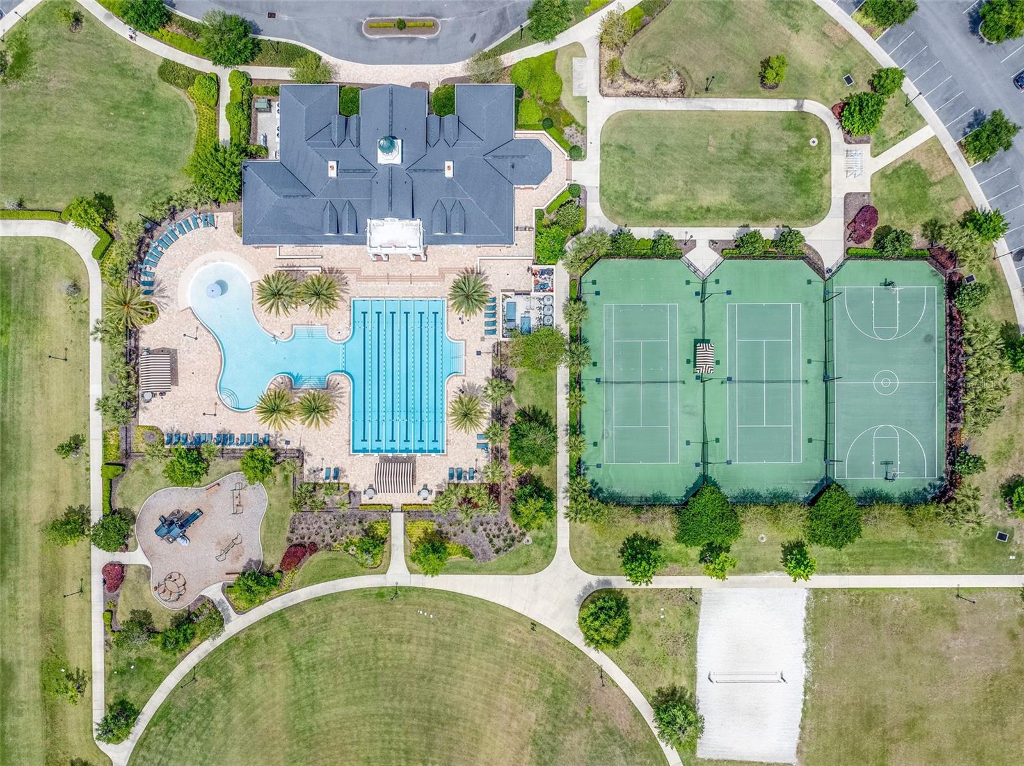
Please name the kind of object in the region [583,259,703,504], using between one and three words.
tennis court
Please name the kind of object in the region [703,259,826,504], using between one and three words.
tennis court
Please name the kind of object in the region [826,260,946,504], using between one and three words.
basketball court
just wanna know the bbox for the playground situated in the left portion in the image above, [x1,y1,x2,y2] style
[133,471,268,612]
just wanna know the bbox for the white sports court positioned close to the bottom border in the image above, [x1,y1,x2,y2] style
[696,589,809,761]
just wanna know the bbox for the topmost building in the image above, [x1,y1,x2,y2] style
[242,84,552,260]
